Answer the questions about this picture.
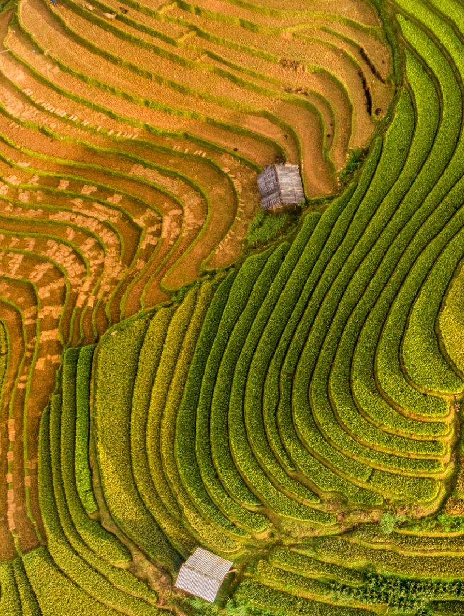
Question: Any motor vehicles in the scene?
No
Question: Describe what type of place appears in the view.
farmland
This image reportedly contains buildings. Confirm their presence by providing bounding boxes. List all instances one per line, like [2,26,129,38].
[258,166,309,212]
[178,547,230,602]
